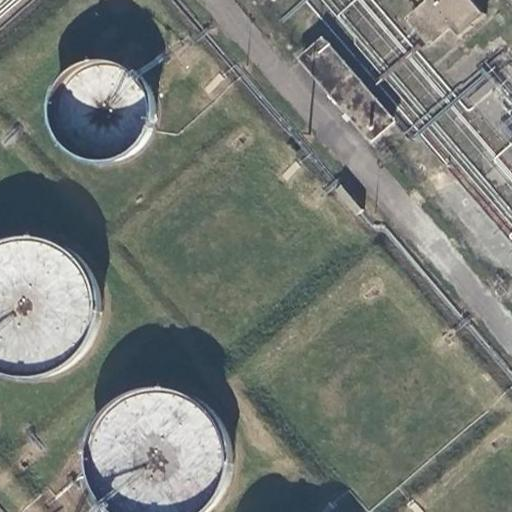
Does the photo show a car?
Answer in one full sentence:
No, there is no car in the image.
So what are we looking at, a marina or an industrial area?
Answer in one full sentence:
The area seen from above is an industrial area.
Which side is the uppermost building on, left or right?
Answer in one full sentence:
The uppermost building appears in the right half of the scene.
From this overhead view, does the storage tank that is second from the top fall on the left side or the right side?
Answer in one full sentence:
You can find the storage tank that is second from the top on the left side of the picture.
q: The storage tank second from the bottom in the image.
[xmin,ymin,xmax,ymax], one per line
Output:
[0,235,100,382]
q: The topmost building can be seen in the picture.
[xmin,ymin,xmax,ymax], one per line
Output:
[406,0,488,46]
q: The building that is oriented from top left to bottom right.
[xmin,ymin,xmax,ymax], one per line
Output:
[297,38,398,144]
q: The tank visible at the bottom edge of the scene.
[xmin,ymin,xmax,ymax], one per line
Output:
[82,388,233,512]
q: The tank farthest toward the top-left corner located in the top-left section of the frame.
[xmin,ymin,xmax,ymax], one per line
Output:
[44,54,167,166]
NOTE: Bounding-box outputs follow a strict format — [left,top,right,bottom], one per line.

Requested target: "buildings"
[406,0,488,46]
[297,38,398,144]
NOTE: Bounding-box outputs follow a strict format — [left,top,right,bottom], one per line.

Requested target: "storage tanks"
[44,54,167,166]
[82,388,233,512]
[0,235,100,382]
